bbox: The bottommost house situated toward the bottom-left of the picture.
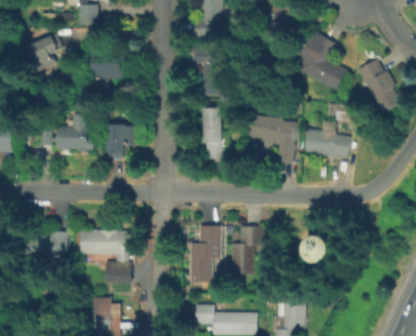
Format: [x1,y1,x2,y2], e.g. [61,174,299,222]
[92,296,122,336]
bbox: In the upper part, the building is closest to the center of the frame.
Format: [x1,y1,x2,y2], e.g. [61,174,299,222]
[201,108,224,158]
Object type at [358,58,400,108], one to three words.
house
